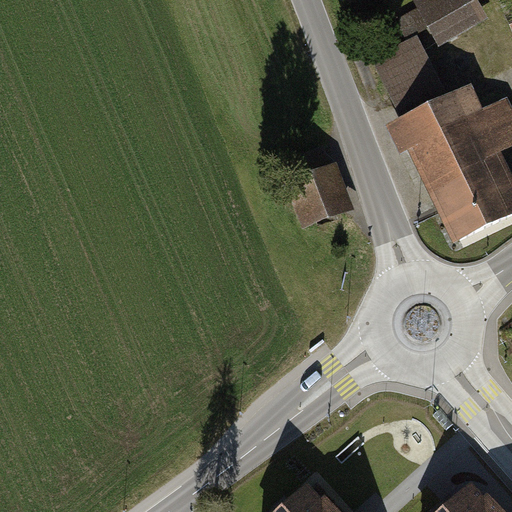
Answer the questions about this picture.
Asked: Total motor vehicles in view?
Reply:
1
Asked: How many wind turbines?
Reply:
0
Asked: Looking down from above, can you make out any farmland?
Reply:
Yes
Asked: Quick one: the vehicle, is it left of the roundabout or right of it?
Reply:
to the left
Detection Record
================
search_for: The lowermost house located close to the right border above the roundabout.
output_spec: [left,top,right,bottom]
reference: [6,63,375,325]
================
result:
[384,87,512,248]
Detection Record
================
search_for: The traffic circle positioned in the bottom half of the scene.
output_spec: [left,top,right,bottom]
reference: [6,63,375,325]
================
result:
[330,234,512,456]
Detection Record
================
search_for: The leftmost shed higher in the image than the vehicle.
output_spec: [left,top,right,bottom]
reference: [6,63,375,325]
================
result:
[290,166,356,229]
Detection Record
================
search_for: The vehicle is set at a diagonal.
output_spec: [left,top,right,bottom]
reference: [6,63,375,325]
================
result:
[300,370,322,393]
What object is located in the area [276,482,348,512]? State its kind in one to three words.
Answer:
house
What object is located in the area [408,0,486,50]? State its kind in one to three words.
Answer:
barn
